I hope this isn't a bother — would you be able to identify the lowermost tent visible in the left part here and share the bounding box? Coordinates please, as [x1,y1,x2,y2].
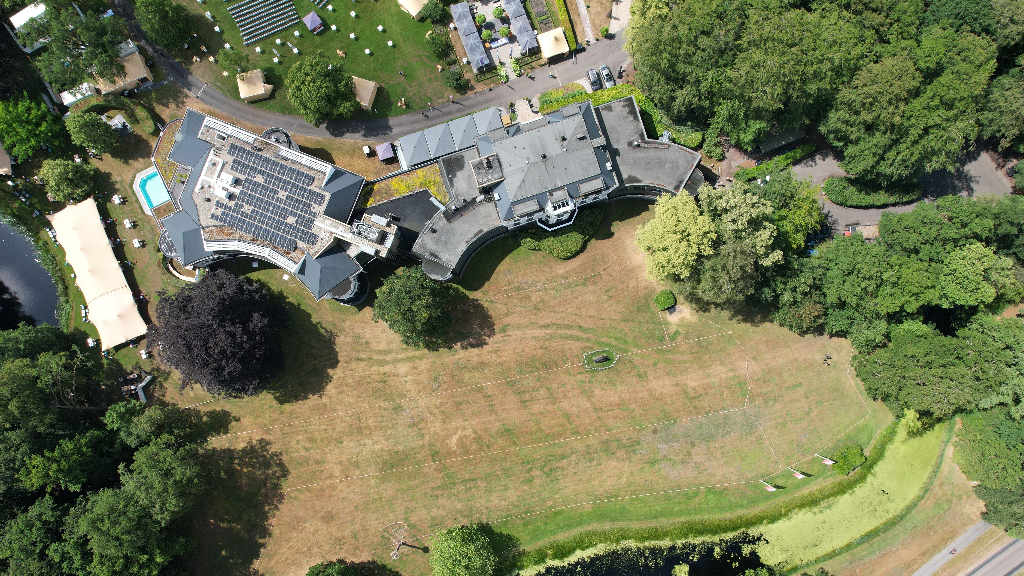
[46,195,148,351]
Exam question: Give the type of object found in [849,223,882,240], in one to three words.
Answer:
building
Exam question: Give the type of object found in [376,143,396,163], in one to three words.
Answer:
gazebo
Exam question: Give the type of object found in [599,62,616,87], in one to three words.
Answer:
car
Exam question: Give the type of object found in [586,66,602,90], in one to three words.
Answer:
car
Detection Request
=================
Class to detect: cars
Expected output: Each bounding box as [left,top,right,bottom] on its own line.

[586,66,602,90]
[1005,165,1024,177]
[599,62,616,87]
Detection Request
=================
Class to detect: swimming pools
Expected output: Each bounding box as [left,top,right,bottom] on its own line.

[133,165,172,215]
